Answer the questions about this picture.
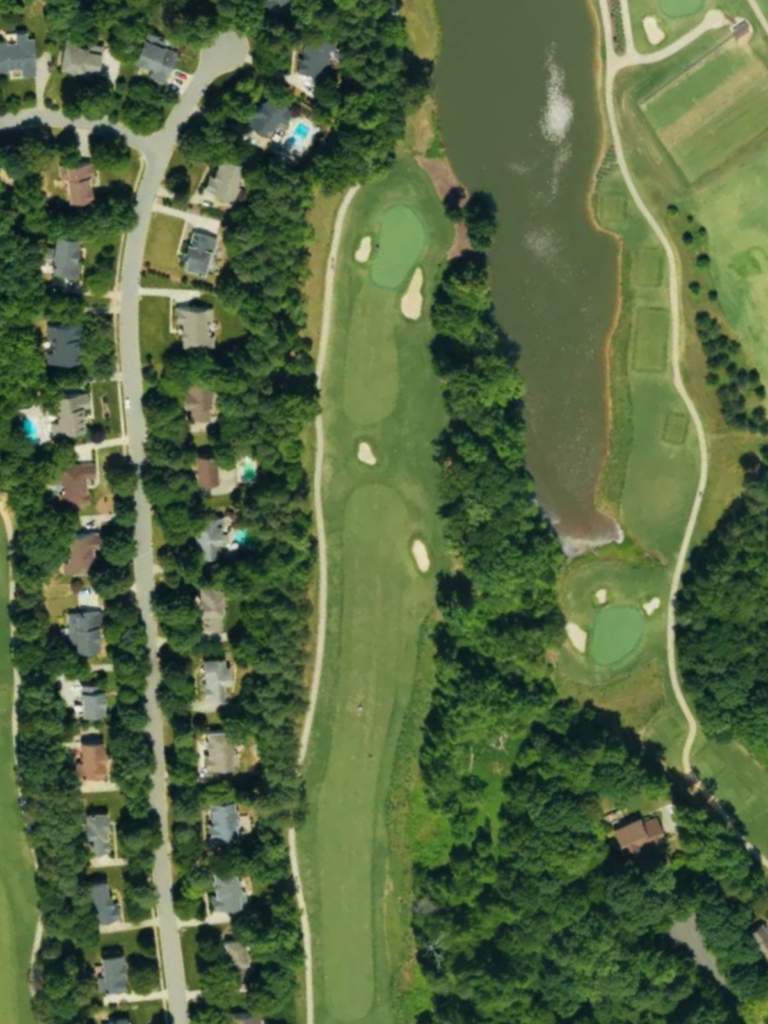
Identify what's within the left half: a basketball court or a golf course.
golf course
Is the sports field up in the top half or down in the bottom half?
top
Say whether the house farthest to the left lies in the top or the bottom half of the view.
top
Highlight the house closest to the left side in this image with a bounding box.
[0,36,35,78]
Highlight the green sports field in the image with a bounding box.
[639,40,768,183]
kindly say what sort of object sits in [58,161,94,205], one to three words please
house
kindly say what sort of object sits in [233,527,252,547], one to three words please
swimming pool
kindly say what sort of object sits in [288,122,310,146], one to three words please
swimming pool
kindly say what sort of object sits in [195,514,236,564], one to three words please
house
